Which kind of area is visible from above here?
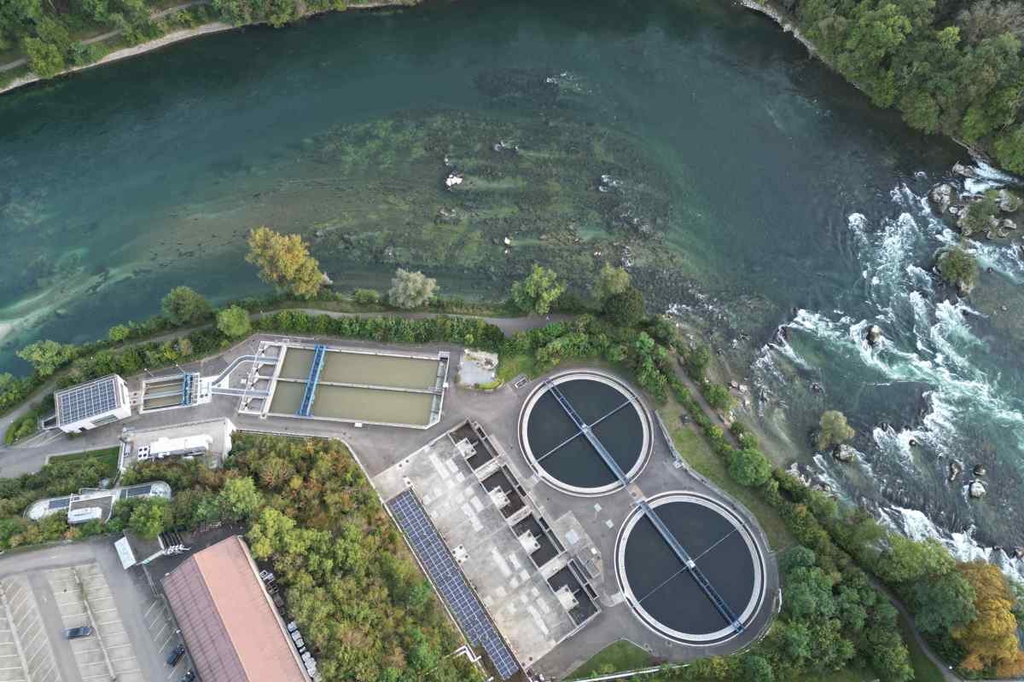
industrial area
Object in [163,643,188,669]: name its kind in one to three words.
car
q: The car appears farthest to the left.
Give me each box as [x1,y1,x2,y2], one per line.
[66,626,92,640]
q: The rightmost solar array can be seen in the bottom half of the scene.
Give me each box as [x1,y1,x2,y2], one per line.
[390,490,520,679]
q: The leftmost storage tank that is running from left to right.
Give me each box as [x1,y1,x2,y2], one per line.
[139,372,214,416]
